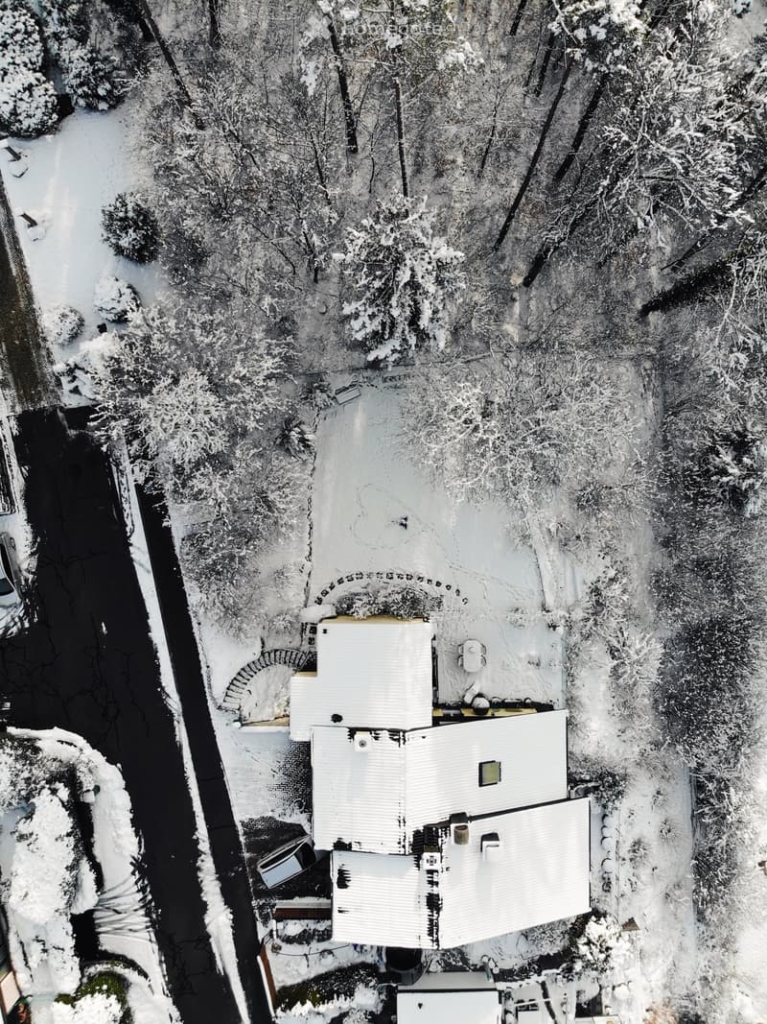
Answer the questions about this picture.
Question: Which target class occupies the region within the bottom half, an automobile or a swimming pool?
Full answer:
It is an automobile that can be seen within the bottom half.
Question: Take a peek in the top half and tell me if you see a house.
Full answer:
No, there is no house in the top half.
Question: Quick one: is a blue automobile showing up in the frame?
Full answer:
No, the photo shows no blue automobile.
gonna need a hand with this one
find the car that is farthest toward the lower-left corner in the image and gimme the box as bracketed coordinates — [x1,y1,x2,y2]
[256,834,318,884]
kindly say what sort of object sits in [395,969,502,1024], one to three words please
building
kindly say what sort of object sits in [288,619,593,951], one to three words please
house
